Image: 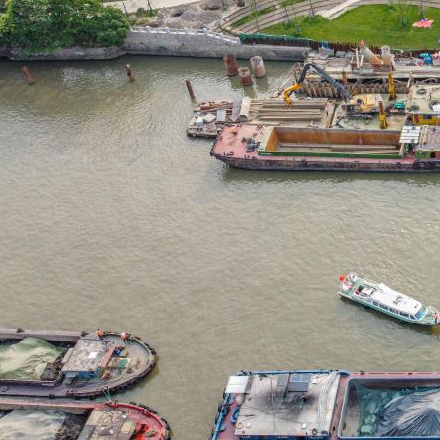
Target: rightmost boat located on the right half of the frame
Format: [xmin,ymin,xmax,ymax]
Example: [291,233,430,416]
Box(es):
[337,272,440,326]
